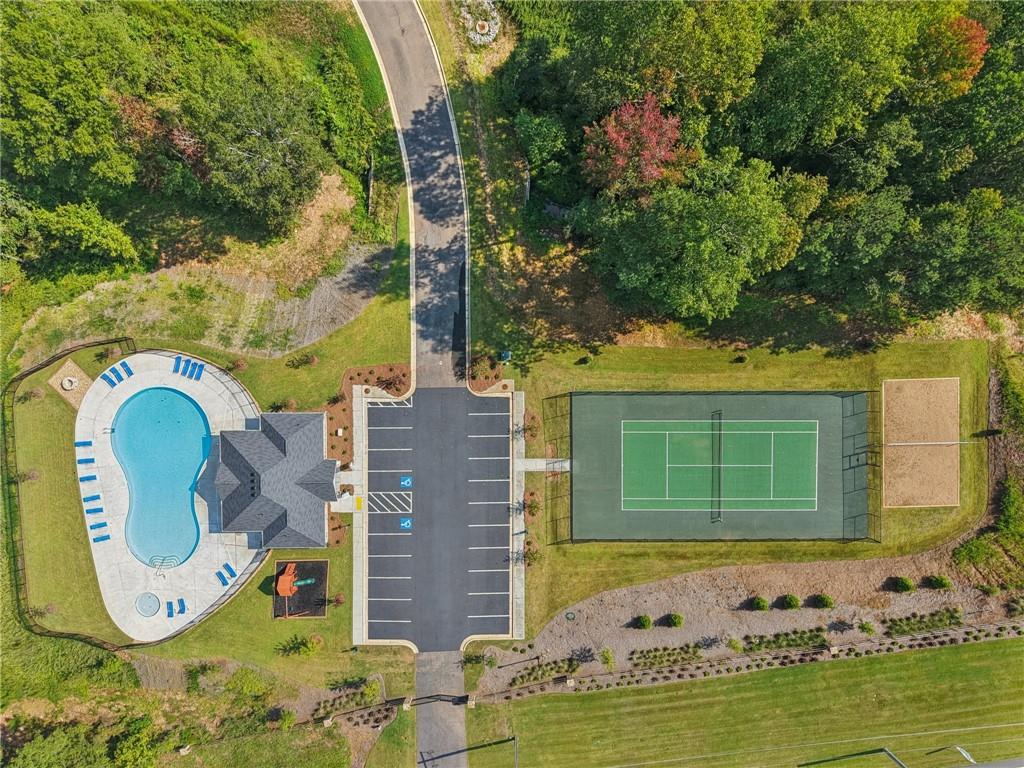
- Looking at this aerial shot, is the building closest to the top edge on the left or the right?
left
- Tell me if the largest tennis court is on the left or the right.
right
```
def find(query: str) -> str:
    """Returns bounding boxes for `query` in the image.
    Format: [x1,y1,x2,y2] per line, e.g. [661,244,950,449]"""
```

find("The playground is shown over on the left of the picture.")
[272,558,330,619]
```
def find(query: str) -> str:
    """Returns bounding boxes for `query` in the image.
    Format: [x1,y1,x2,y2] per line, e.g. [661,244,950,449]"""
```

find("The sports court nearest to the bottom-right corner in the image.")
[875,377,986,508]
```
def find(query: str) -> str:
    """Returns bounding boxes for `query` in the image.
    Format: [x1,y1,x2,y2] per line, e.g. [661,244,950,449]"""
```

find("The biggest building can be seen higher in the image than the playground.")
[212,412,343,549]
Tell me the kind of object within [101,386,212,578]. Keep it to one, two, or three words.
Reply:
swimming pool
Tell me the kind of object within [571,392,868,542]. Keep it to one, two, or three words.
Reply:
tennis court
